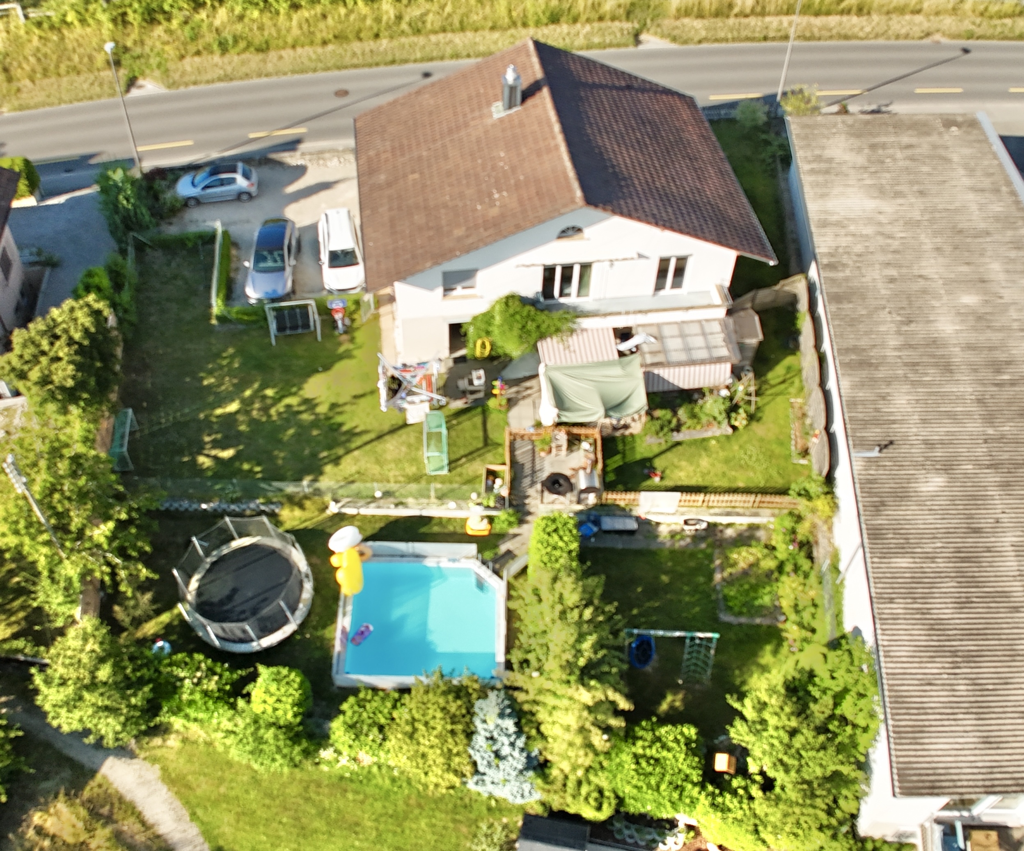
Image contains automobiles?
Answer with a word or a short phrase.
Yes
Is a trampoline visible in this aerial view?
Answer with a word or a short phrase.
Yes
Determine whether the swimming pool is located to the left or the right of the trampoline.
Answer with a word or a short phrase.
to the right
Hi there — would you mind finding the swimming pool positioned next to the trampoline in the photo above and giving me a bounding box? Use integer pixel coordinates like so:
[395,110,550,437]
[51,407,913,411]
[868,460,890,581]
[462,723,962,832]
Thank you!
[333,549,510,698]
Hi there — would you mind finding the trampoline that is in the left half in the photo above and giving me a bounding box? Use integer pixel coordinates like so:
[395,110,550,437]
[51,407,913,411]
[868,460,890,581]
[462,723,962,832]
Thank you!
[164,509,318,658]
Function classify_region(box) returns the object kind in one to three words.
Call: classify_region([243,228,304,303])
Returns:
car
